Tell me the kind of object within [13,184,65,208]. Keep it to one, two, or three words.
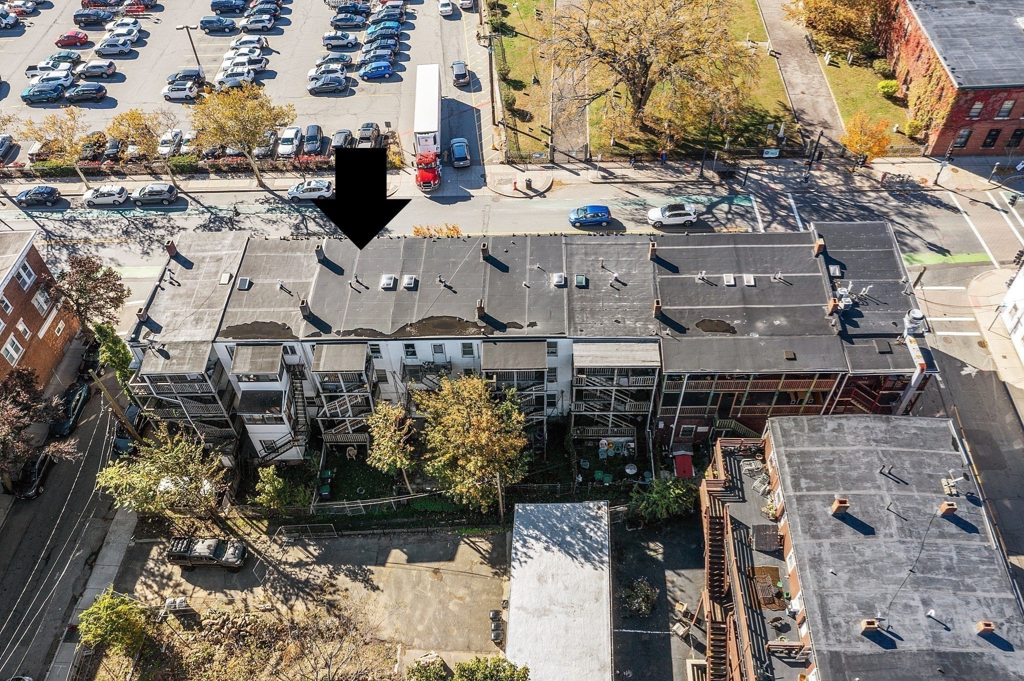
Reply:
car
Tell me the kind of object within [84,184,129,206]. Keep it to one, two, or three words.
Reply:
car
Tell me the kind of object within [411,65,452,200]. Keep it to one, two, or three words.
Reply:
truck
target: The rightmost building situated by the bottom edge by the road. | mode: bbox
[693,419,1024,681]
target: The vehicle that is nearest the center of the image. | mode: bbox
[568,205,612,228]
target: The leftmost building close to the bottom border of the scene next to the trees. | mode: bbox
[508,501,621,681]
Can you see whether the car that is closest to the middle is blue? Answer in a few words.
Yes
